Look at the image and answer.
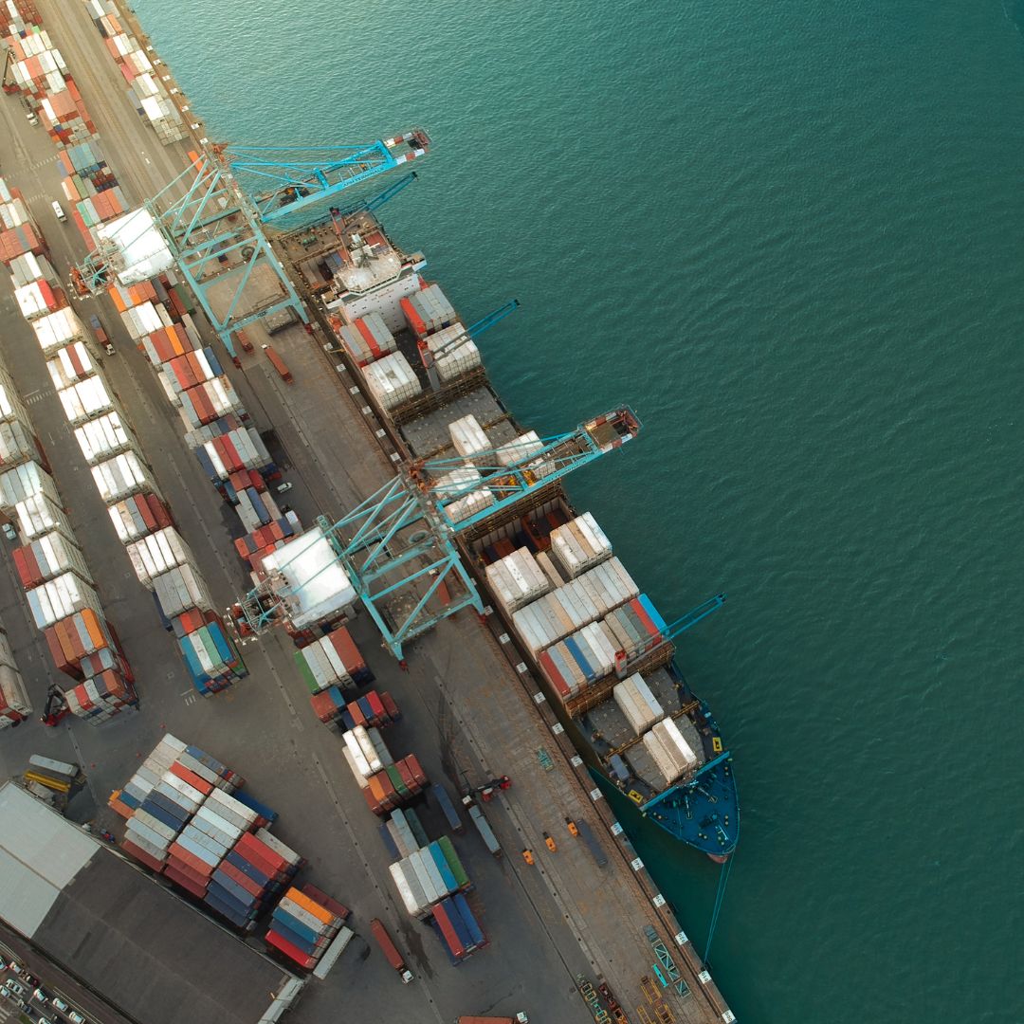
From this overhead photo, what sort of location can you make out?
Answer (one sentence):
The area seen from above is a port.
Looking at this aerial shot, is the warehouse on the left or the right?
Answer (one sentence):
The warehouse appears in the left half of the scene.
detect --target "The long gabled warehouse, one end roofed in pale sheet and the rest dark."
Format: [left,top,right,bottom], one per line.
[0,769,310,1024]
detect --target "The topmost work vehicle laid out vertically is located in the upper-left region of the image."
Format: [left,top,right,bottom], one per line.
[2,50,18,101]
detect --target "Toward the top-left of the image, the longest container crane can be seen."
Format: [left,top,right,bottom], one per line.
[61,120,433,359]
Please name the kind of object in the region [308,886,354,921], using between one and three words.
shipping container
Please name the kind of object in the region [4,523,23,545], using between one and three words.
vehicle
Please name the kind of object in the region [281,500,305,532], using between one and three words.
truck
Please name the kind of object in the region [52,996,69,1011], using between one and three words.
car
